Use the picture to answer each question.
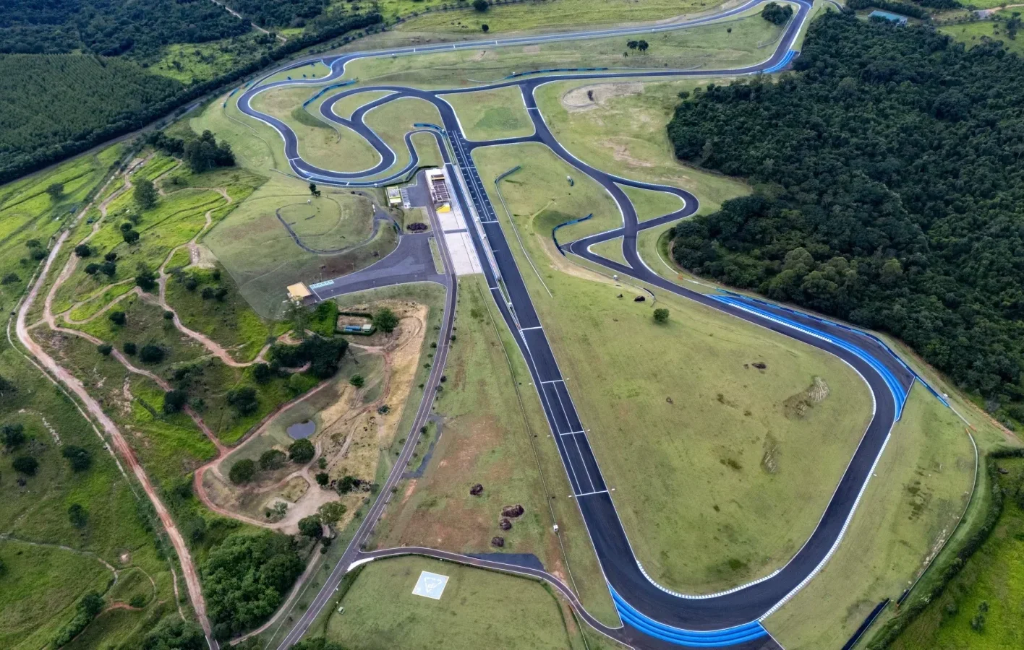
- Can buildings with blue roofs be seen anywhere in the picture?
Yes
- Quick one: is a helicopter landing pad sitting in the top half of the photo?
No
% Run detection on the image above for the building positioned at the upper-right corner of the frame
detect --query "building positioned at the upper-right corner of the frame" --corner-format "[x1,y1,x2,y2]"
[867,11,906,27]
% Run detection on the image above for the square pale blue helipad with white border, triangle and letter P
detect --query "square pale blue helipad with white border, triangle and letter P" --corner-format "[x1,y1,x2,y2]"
[412,571,449,600]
